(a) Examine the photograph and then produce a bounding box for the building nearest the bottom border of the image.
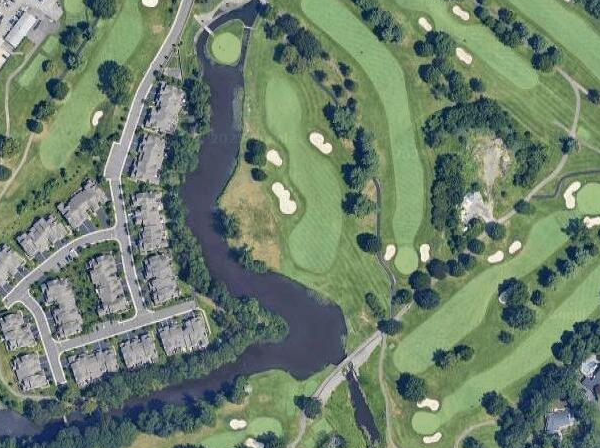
[544,406,575,432]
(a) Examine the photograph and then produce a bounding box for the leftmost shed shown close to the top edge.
[2,11,38,47]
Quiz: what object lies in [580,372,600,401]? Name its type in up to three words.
house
